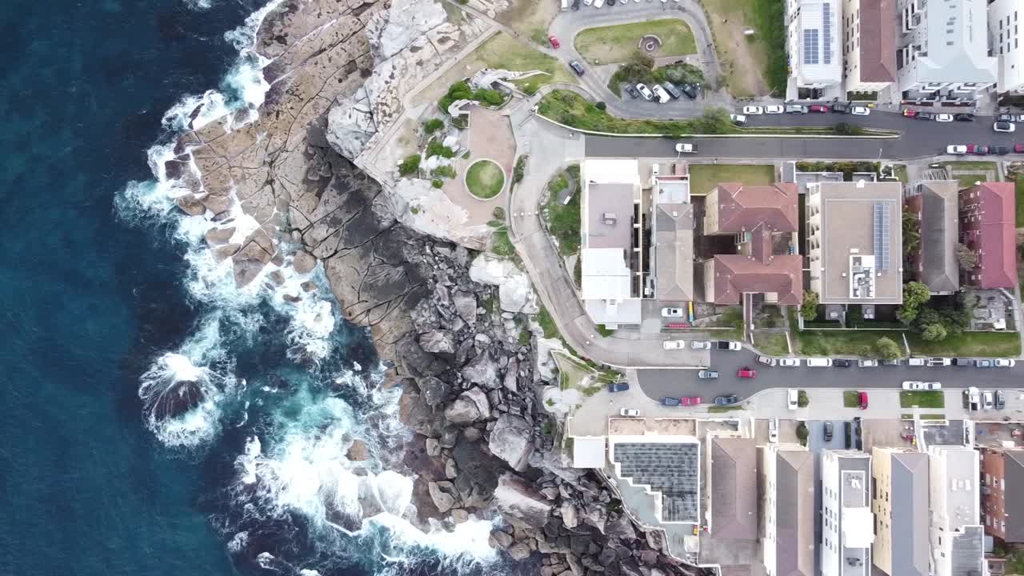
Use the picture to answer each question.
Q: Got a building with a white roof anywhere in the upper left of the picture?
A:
No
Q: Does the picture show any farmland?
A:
No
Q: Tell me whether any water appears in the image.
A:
Yes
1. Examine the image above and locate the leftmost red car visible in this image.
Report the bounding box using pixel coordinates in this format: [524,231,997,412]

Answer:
[548,33,561,52]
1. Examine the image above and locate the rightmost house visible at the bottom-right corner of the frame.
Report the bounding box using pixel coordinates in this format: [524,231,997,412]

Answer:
[982,444,1024,543]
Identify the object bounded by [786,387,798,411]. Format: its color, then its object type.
white vehicle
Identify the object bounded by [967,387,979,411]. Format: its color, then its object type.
white vehicle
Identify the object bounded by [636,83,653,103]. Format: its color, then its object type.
white car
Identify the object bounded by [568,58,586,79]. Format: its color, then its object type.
gray car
